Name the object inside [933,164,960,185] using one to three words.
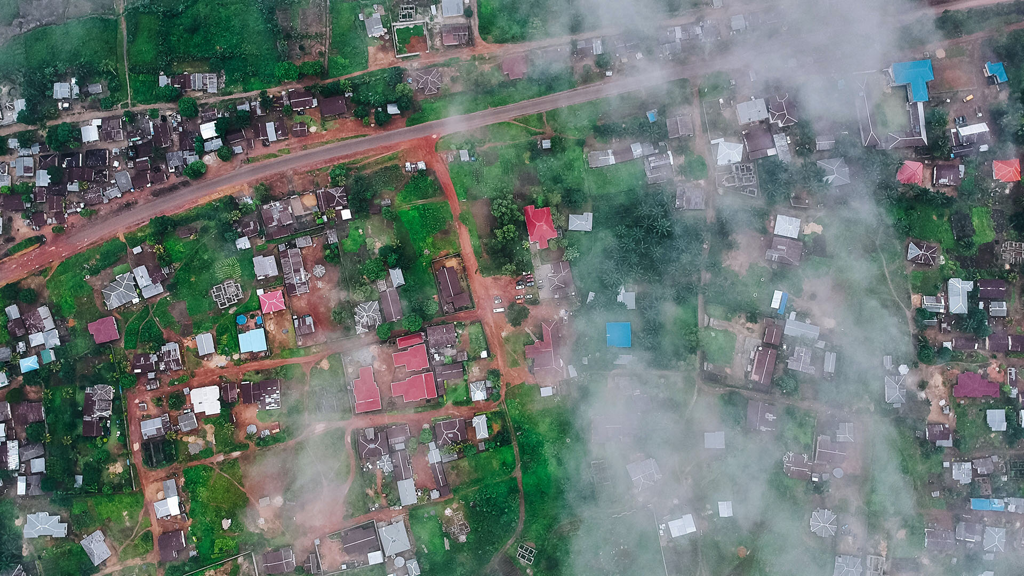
house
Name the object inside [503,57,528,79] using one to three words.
house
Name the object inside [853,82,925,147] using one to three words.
building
